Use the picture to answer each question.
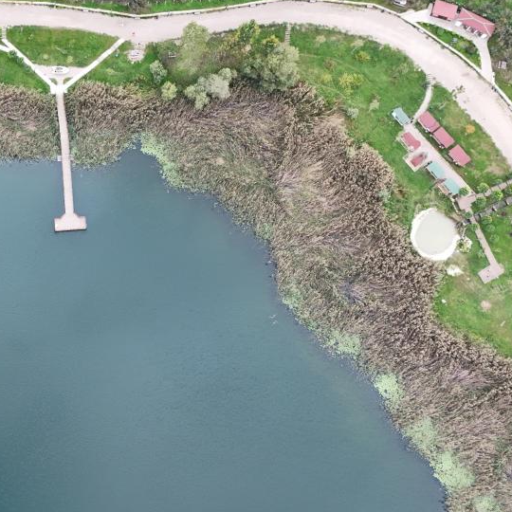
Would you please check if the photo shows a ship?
No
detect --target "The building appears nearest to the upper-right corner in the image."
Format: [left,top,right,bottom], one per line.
[450,8,495,43]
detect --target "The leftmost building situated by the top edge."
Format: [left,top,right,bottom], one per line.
[429,0,459,24]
